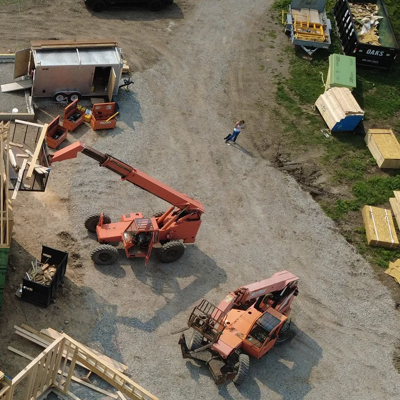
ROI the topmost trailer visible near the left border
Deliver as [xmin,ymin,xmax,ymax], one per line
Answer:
[1,42,139,100]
